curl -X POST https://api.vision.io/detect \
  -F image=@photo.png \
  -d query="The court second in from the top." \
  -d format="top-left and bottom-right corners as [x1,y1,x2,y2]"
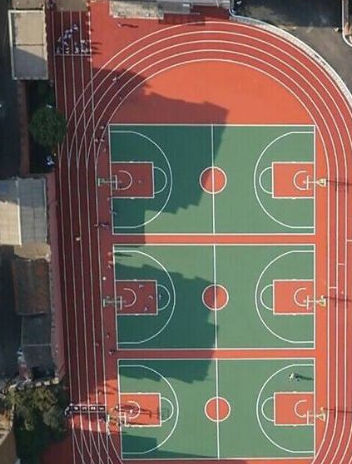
[113,243,315,350]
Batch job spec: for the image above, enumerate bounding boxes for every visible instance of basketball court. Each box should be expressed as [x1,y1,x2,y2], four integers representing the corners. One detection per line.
[108,123,316,236]
[113,243,315,350]
[118,359,315,459]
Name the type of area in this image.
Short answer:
sports ground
